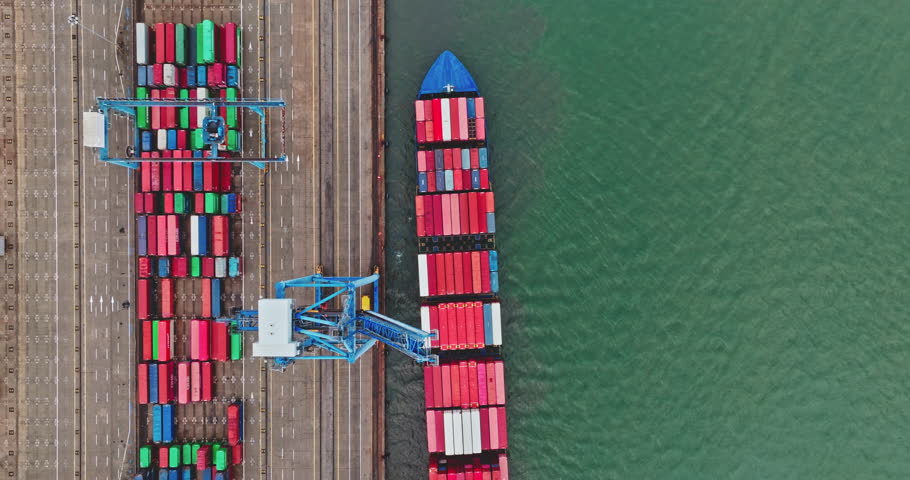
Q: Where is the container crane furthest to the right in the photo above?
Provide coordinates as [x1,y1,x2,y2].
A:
[215,262,443,369]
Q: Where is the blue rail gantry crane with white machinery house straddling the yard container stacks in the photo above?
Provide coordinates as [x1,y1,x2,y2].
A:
[81,99,289,179]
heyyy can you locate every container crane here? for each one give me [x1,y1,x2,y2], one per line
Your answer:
[81,99,289,179]
[215,262,443,369]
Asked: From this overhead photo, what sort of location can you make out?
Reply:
port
